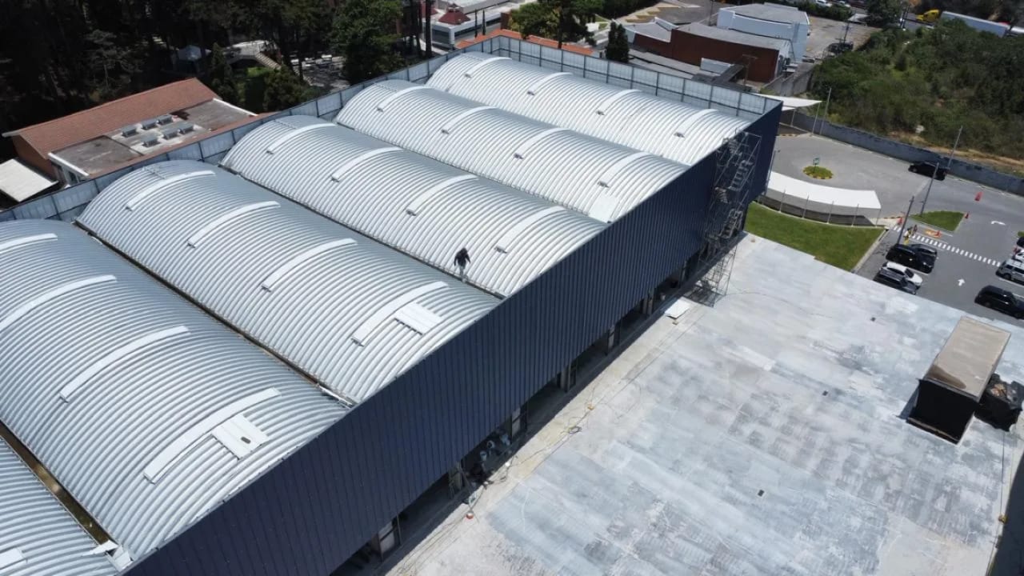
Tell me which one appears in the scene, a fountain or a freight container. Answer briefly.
freight container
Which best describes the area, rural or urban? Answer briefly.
urban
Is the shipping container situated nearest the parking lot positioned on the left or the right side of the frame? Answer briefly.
right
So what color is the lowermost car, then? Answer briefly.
black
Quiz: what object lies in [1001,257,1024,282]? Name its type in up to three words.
vehicle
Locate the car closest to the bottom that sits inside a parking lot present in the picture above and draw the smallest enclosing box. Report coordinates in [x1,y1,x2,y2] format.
[975,280,1024,315]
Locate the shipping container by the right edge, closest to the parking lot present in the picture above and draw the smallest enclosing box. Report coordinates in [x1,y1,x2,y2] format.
[897,315,1006,442]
